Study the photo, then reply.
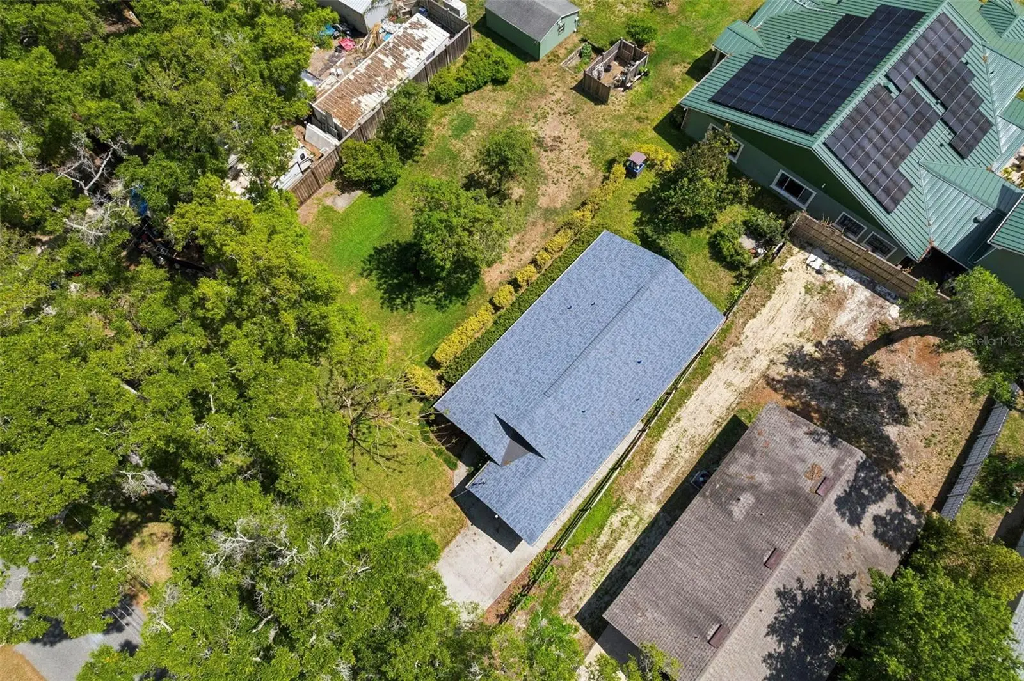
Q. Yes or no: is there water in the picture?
No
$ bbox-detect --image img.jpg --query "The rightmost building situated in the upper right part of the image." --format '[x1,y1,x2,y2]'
[680,0,1024,313]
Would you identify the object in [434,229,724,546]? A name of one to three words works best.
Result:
house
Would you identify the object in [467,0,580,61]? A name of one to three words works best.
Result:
shed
